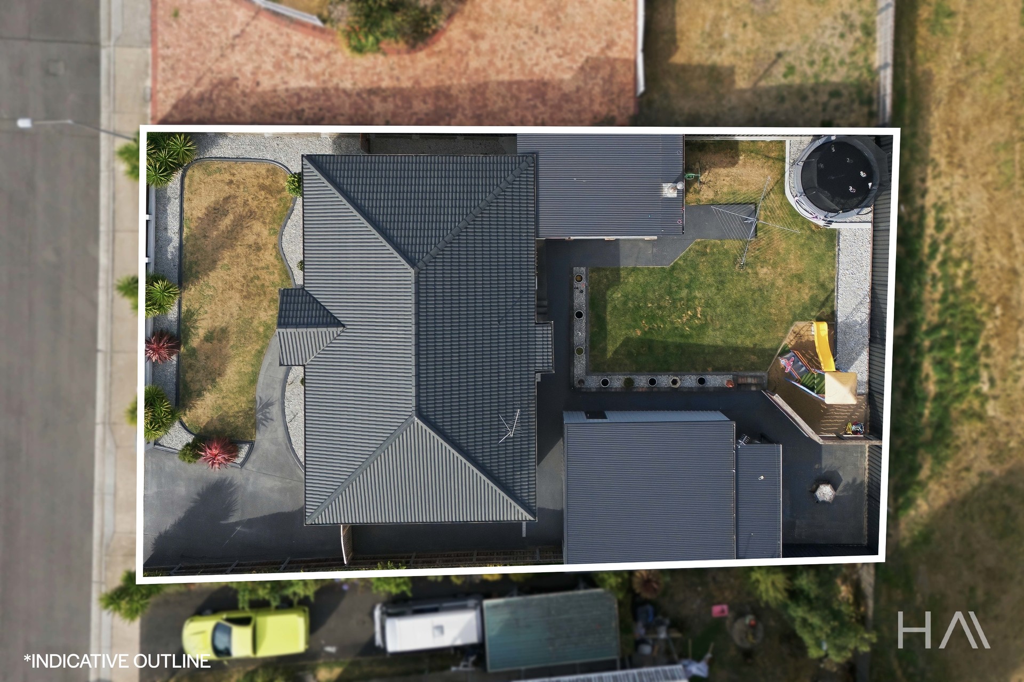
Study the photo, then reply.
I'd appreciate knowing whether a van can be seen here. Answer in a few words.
Yes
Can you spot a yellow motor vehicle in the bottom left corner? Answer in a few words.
Yes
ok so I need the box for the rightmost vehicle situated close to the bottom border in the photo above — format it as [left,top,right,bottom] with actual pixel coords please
[374,583,483,653]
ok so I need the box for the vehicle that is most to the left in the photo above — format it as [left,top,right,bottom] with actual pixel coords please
[184,600,310,665]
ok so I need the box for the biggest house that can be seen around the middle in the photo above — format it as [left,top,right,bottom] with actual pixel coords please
[273,152,555,536]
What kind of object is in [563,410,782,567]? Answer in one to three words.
building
